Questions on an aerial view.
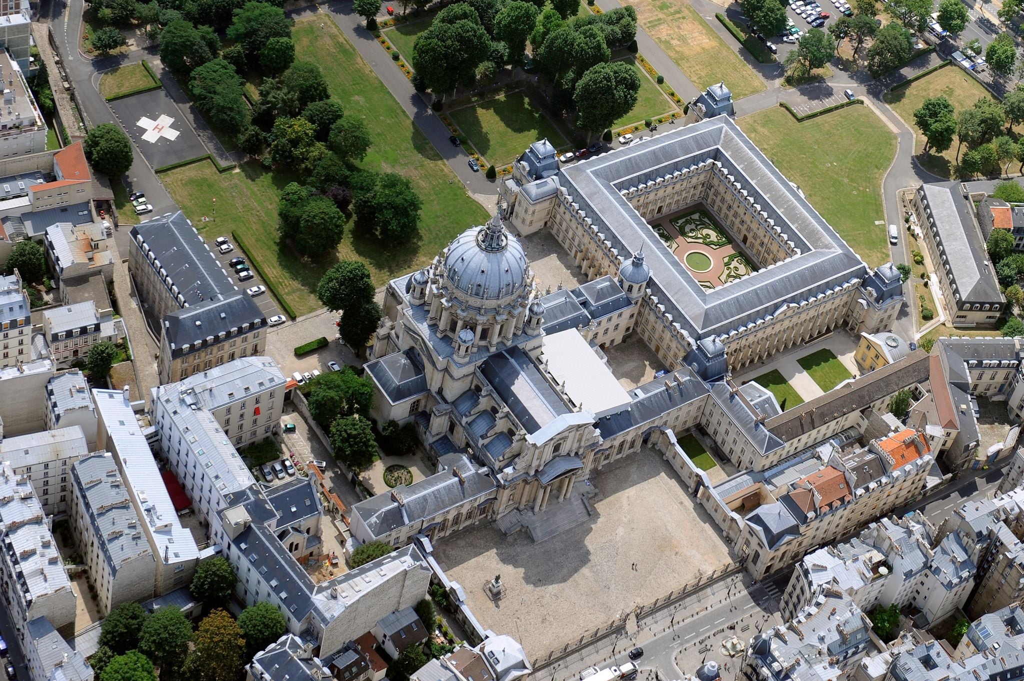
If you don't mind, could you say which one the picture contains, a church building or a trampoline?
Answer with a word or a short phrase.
church building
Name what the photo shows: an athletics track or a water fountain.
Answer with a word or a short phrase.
water fountain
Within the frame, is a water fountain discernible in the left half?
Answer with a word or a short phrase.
No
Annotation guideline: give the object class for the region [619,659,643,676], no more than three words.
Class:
vehicle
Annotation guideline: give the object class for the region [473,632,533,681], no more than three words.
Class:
building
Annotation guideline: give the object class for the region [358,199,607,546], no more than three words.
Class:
church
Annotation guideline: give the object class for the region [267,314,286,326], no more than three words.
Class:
vehicle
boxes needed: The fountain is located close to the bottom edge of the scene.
[718,633,747,664]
